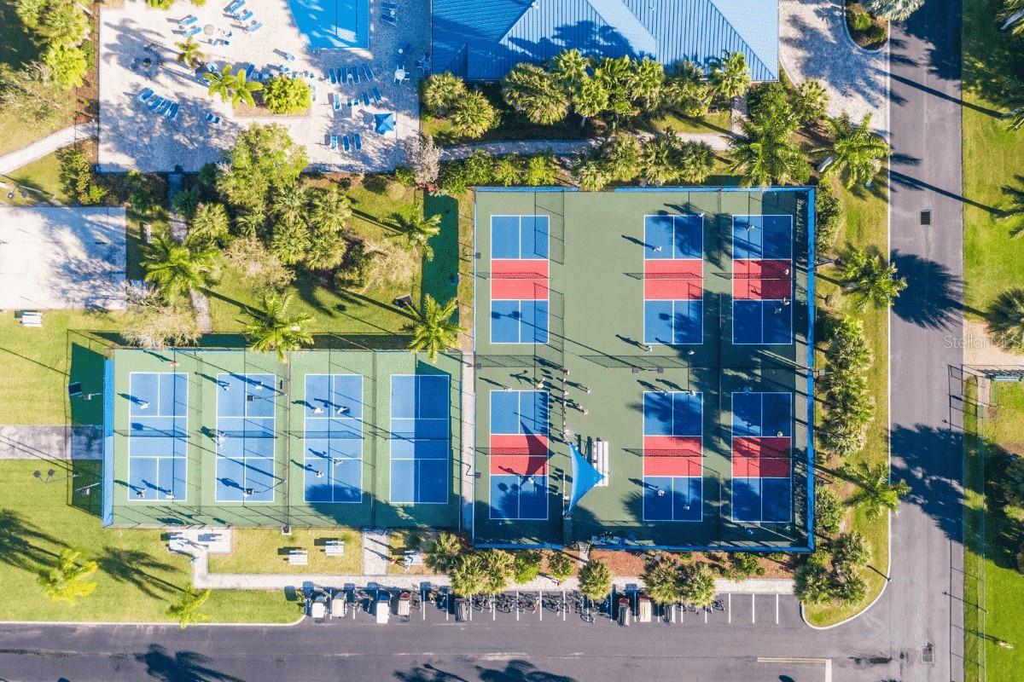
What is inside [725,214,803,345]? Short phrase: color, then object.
blue sports court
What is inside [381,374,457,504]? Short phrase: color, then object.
blue sports court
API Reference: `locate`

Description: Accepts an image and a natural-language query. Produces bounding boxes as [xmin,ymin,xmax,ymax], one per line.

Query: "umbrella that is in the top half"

[374,113,396,135]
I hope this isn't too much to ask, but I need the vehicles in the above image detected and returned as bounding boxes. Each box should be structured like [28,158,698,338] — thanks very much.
[313,594,329,621]
[332,587,349,615]
[637,595,651,621]
[377,594,391,621]
[455,594,469,621]
[398,589,412,616]
[660,596,675,623]
[616,599,630,626]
